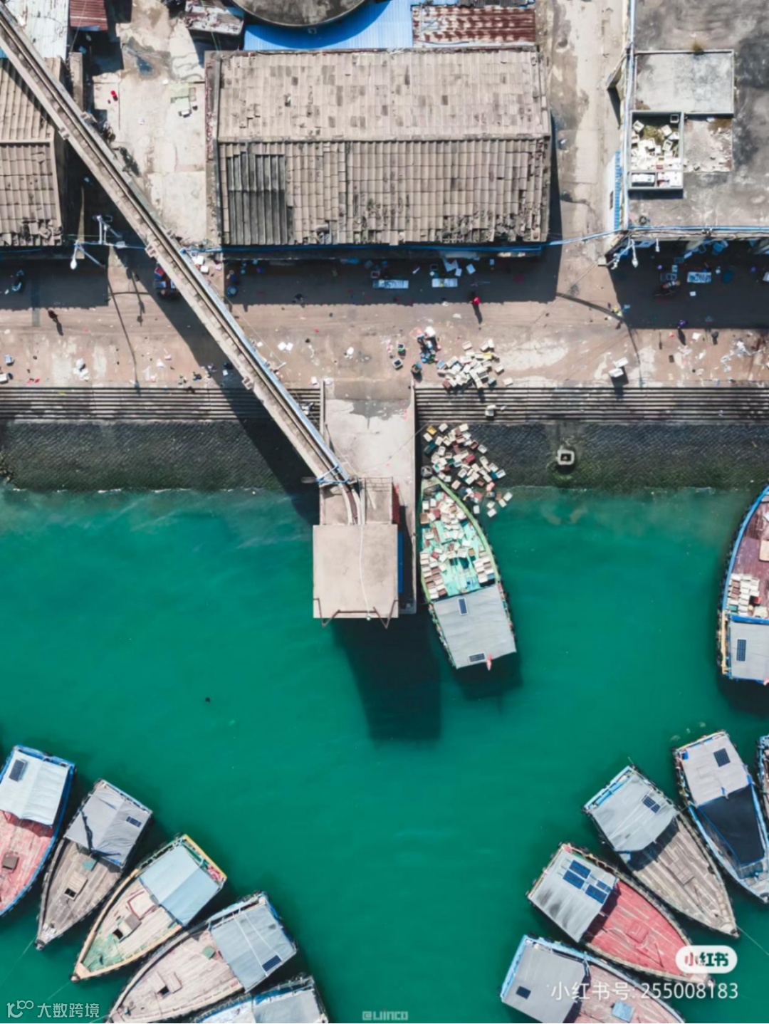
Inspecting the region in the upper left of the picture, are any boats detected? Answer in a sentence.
No, no boat appears in the upper left of the picture.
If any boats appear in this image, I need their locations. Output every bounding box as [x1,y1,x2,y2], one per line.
[105,890,297,1024]
[582,765,738,936]
[180,973,329,1024]
[718,478,769,681]
[72,833,227,979]
[36,780,153,949]
[501,935,682,1024]
[415,475,517,670]
[528,843,715,987]
[670,728,769,903]
[754,732,769,824]
[0,747,78,925]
